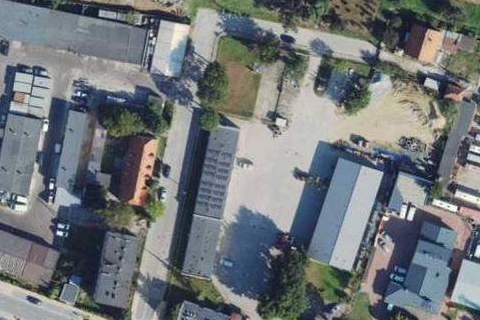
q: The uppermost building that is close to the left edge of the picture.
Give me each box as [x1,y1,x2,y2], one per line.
[0,0,147,65]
